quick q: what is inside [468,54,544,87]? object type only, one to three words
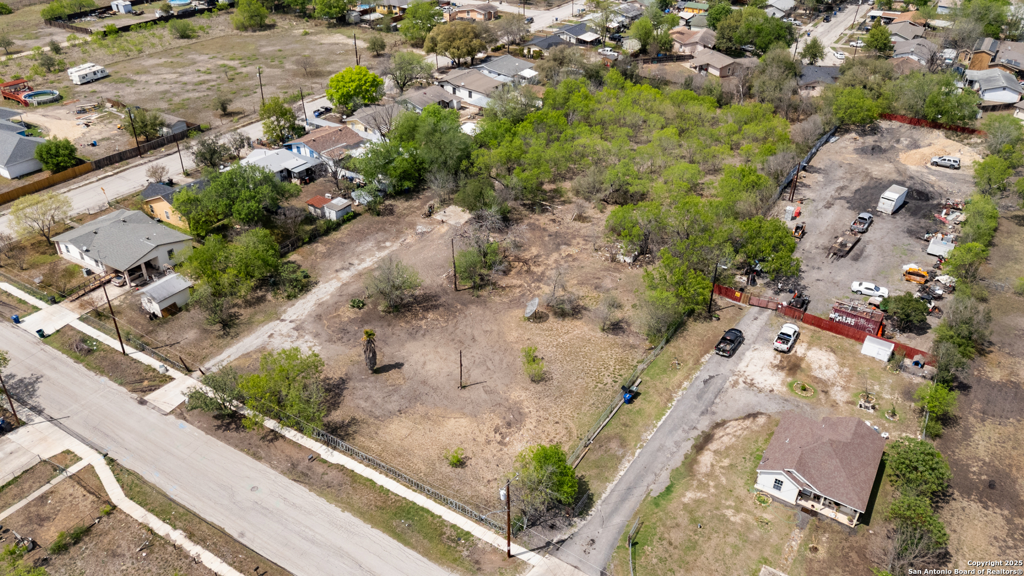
house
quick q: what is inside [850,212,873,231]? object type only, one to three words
vehicle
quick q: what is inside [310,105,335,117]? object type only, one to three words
vehicle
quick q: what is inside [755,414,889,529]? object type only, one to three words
house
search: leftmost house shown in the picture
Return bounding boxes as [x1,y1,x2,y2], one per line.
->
[0,112,47,179]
